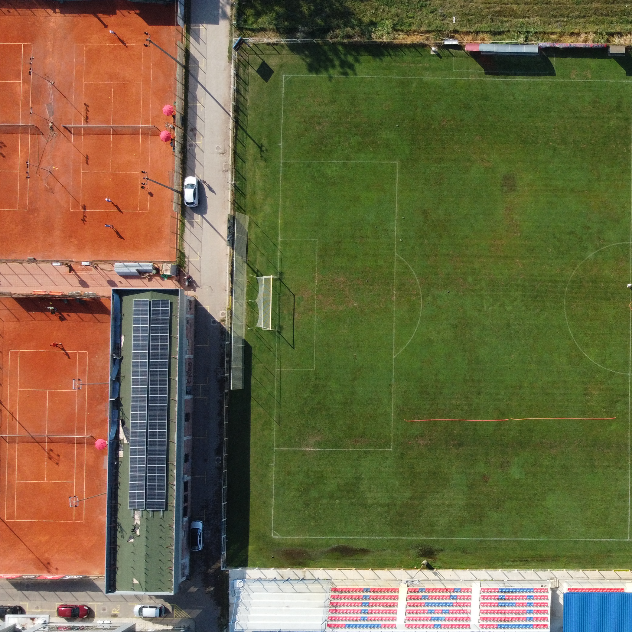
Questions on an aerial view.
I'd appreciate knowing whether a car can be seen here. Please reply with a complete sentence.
Yes, a car appears in the view.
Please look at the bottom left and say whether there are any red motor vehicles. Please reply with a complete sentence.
Yes, there is a red motor vehicle at the bottom left.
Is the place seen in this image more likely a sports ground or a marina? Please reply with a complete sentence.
This image shows a sports ground.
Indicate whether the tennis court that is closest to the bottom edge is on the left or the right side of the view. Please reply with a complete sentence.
The tennis court that is closest to the bottom edge appears in the left half of the scene.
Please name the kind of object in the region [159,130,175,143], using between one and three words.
umbrella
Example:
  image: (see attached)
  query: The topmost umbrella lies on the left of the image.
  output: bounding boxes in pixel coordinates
[162,104,176,118]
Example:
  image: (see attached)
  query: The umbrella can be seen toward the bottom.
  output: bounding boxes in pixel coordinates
[95,437,109,451]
